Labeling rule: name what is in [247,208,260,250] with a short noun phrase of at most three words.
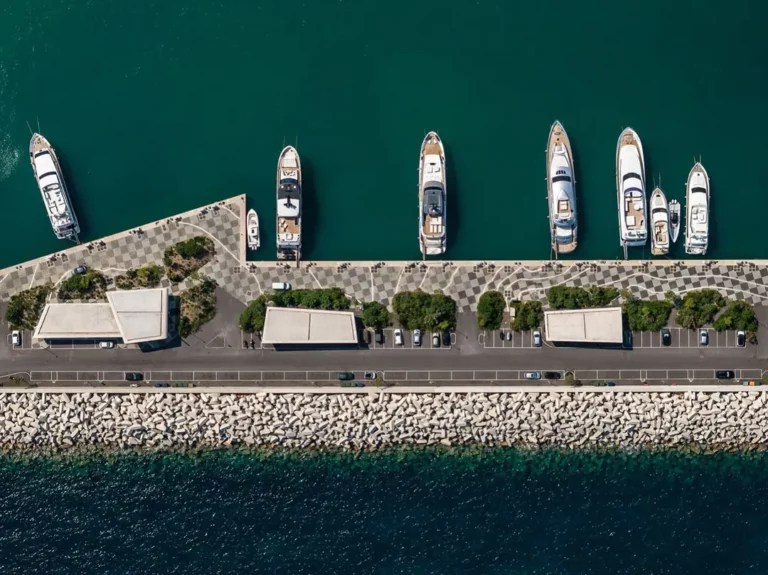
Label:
boat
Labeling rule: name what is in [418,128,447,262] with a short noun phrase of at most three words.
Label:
boat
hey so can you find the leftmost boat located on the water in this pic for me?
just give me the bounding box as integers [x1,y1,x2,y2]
[28,119,92,252]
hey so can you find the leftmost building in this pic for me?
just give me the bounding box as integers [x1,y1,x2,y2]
[33,288,169,344]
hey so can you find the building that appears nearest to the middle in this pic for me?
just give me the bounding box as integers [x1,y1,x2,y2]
[262,307,358,343]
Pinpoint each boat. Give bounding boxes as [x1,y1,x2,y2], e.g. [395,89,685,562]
[544,119,584,262]
[650,179,679,262]
[669,201,680,243]
[682,156,710,259]
[616,126,647,262]
[276,138,310,268]
[247,208,260,250]
[28,119,92,252]
[418,128,447,262]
